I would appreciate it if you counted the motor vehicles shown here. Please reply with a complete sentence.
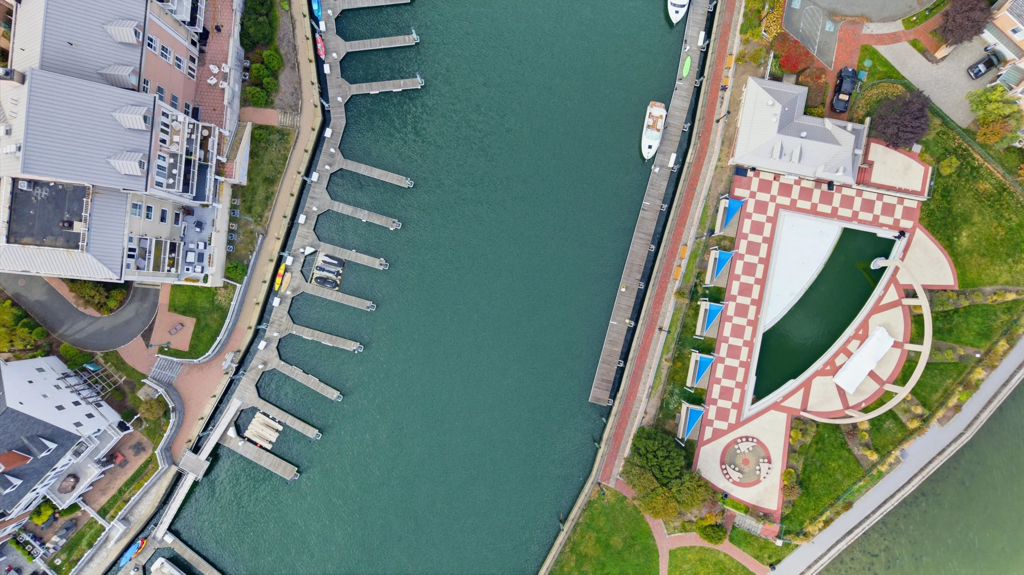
Looking from above, you can make out 2 motor vehicles.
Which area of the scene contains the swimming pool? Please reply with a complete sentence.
You can find the swimming pool in the right area of the picture.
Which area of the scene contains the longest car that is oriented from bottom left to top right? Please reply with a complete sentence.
The longest car that is oriented from bottom left to top right is in the top right part of the image.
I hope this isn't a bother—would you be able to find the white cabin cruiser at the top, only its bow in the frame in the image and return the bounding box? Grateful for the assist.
[669,0,693,28]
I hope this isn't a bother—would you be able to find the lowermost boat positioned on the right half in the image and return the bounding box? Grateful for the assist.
[642,99,666,159]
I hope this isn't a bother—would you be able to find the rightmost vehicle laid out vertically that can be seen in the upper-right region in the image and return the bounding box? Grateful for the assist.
[832,64,859,114]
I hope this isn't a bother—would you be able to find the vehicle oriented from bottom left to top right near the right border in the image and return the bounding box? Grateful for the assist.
[967,48,1005,82]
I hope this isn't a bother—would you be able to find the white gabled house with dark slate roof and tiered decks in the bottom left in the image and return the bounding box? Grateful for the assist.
[0,356,137,555]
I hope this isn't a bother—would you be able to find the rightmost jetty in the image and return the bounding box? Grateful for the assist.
[588,0,708,406]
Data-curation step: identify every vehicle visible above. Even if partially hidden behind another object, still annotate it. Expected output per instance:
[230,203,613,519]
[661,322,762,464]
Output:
[832,64,859,114]
[967,48,1005,82]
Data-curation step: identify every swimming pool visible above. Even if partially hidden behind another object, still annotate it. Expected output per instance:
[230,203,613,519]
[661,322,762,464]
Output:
[739,207,910,423]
